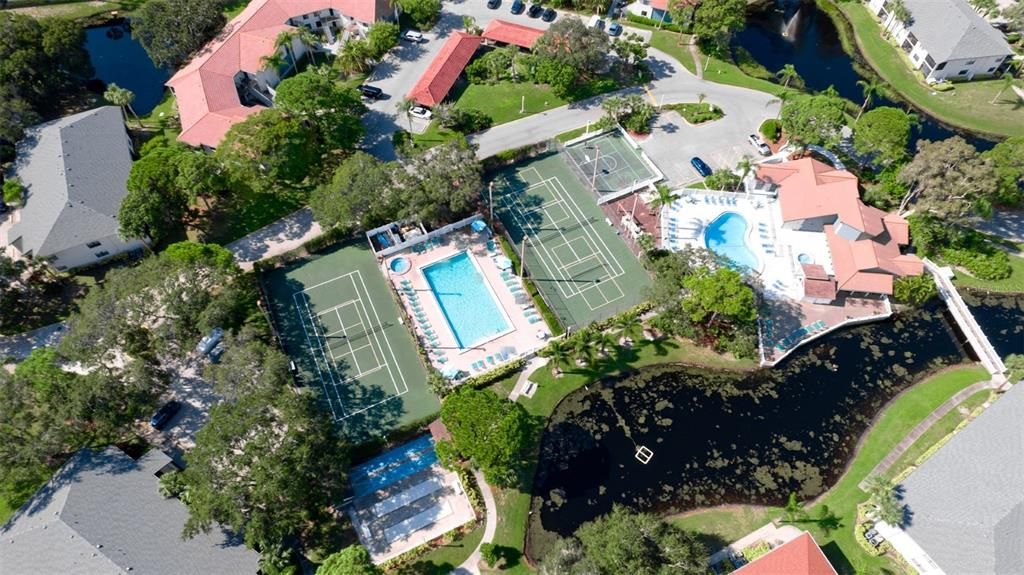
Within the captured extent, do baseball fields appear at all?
No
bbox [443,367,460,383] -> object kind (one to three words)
umbrella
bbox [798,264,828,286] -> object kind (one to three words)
shed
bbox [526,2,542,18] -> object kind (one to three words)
car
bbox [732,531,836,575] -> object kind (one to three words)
building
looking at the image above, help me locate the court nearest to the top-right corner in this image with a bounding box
[561,122,659,200]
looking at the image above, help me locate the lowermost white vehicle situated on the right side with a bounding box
[748,133,774,157]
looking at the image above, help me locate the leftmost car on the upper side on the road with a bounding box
[358,81,383,98]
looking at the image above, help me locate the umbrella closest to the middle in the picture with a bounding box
[496,258,511,273]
